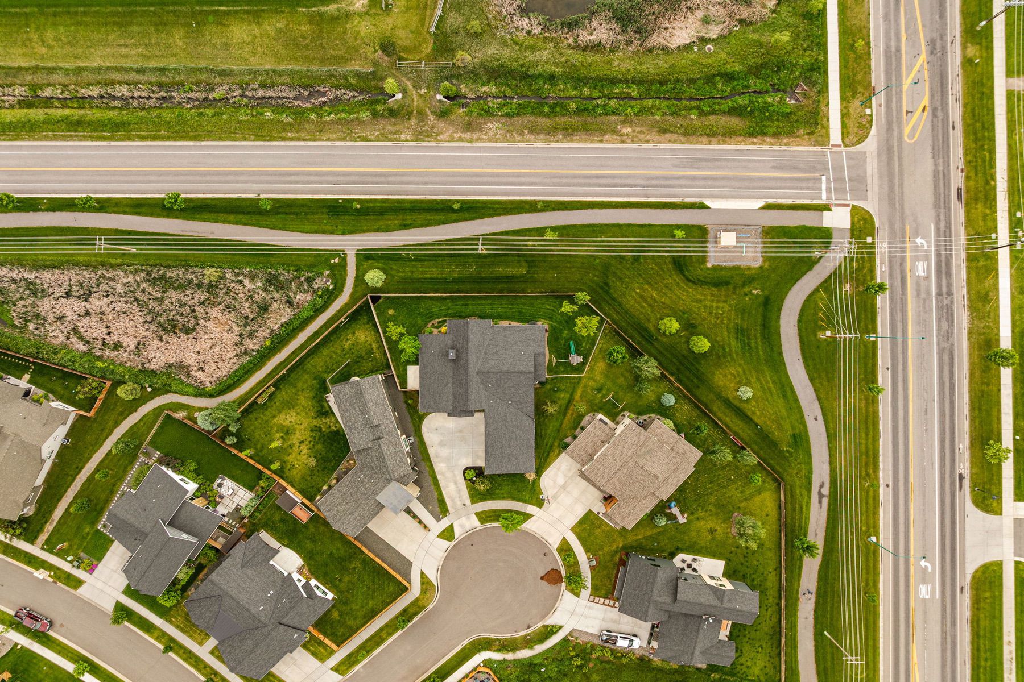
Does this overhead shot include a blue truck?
No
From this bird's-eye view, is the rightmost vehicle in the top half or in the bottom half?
bottom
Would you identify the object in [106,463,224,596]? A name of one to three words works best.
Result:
house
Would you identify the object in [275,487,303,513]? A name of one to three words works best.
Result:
shed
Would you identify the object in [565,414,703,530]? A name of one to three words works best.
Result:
house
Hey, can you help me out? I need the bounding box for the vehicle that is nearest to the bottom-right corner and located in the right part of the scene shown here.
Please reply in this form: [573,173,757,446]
[597,630,639,650]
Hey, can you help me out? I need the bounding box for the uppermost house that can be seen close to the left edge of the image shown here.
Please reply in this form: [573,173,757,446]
[0,371,85,520]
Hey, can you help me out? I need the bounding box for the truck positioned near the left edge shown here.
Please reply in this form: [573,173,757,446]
[10,606,55,633]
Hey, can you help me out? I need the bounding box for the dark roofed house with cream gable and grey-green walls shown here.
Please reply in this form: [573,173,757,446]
[615,553,759,667]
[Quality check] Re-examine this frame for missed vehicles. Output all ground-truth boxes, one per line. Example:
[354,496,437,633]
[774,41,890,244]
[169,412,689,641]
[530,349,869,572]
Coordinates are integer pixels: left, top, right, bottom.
[597,630,639,650]
[10,606,55,633]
